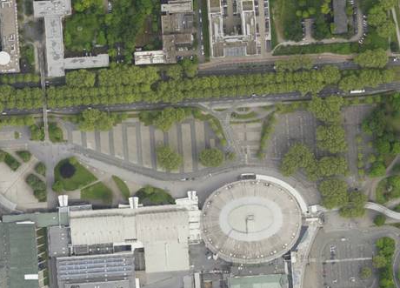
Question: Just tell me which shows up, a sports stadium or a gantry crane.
sports stadium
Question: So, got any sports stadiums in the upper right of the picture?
No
